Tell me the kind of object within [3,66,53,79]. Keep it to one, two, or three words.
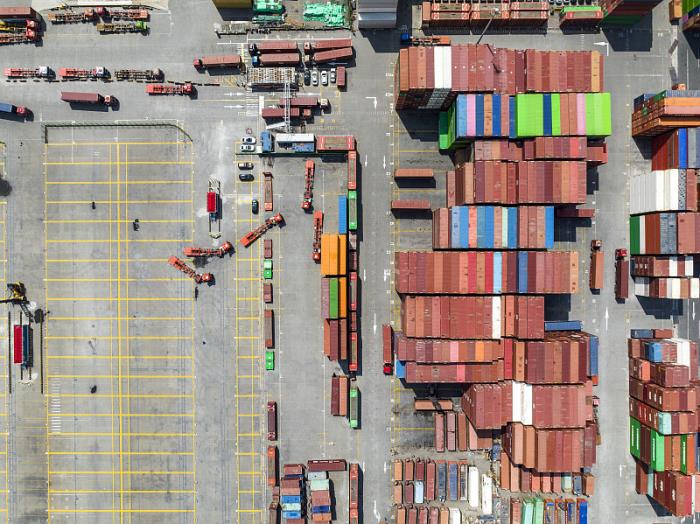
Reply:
vehicle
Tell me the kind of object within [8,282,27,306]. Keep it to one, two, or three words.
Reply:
work vehicle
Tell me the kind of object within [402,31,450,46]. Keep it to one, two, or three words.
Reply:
vehicle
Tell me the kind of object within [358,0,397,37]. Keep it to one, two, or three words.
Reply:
shed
